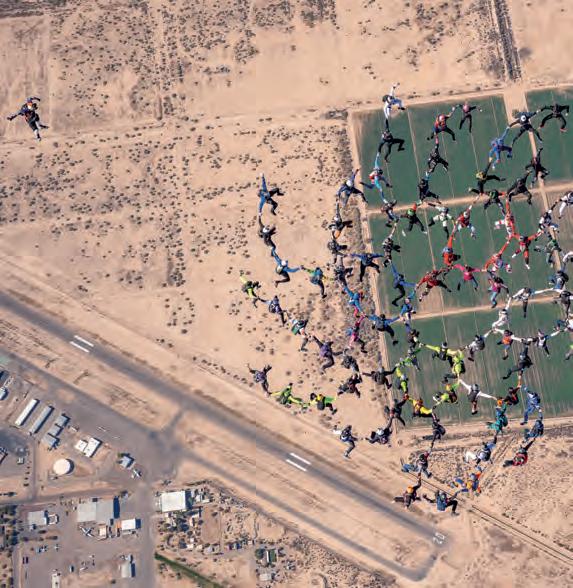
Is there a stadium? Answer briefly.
No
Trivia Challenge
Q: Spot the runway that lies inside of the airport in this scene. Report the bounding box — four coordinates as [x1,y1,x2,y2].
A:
[0,291,454,553]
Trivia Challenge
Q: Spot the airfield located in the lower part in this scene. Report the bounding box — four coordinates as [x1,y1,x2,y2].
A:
[0,291,454,579]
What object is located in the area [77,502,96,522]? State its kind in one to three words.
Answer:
hangar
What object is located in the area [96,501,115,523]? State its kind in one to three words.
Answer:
hangar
